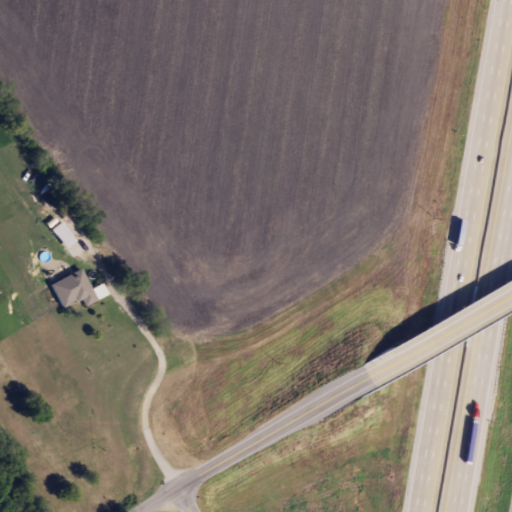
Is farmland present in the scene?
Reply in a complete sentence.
Yes, there is farmland in the image.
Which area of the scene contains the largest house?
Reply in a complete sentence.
You can find the largest house in the left area of the picture.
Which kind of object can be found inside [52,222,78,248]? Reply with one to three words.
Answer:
barn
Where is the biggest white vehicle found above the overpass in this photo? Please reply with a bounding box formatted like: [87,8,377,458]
[454,219,468,252]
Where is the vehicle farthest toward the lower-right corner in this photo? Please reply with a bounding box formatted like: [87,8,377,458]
[464,406,480,464]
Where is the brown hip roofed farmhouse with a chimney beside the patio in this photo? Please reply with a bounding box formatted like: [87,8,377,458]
[52,268,100,308]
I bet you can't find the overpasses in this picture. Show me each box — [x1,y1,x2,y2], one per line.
[356,281,512,392]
